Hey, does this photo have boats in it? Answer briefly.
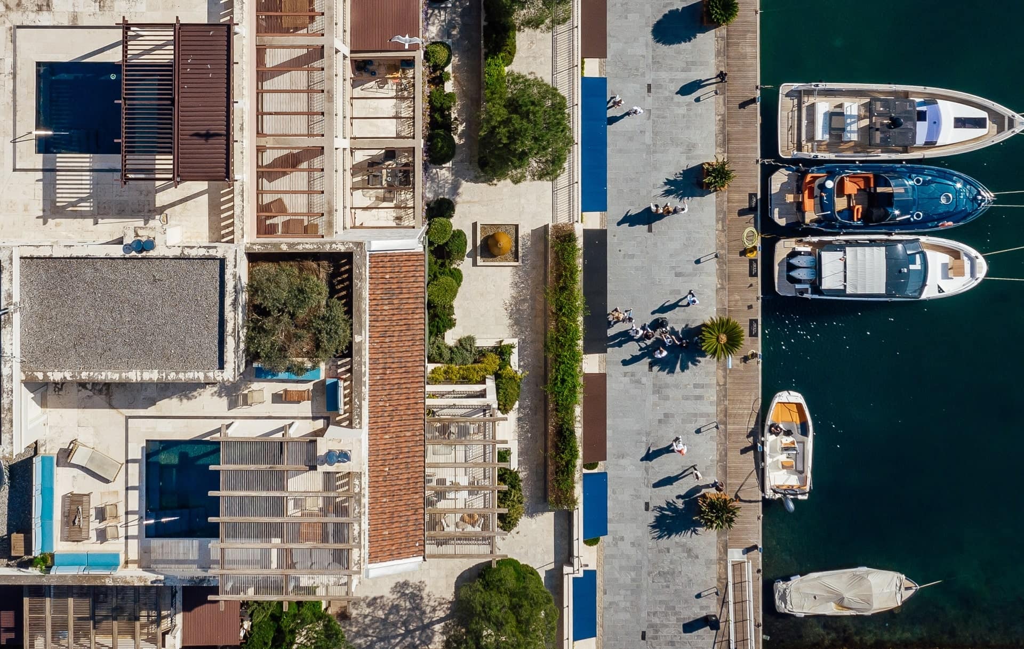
Yes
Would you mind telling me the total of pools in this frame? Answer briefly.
2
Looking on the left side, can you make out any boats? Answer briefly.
No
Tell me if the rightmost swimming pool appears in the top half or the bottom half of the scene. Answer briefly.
bottom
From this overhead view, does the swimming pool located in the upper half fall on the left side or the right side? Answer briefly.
left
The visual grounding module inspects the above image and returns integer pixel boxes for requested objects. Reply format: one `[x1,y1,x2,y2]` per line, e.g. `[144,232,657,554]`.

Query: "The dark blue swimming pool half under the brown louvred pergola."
[36,62,157,154]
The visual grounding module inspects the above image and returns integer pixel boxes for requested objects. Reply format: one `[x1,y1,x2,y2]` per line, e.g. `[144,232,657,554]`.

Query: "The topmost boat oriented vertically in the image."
[761,391,813,512]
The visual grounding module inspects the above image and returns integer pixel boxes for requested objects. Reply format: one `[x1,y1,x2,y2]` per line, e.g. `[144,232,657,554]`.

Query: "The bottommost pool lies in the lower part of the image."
[146,440,283,537]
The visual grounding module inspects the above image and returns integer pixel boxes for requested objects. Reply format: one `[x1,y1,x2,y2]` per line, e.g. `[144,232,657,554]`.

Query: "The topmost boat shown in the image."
[779,83,1024,159]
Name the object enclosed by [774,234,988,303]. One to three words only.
boat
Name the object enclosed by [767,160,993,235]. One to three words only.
boat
